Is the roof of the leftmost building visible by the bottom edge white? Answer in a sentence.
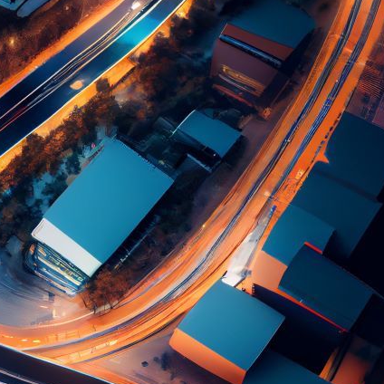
No, the color of the roof of the leftmost building visible by the bottom edge is blue.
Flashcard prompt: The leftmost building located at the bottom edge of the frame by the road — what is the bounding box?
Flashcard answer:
[160,279,284,384]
